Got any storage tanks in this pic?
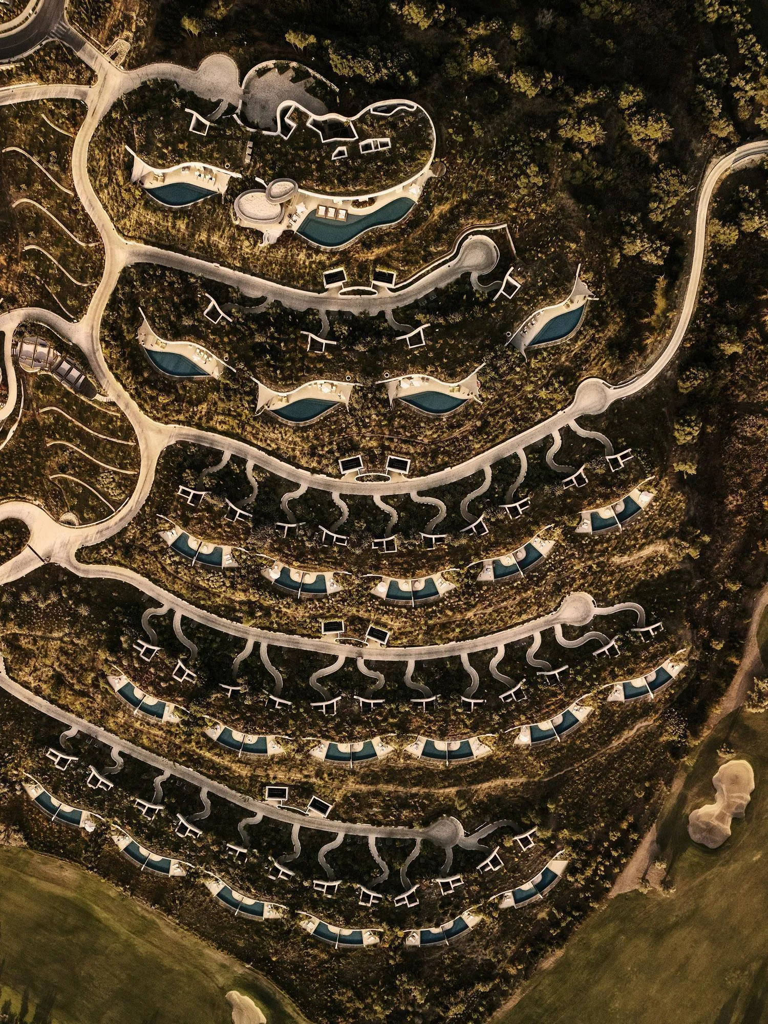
No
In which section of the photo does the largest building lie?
top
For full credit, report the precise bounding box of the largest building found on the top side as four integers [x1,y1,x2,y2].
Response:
[232,98,438,253]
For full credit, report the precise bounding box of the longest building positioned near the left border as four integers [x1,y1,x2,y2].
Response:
[18,335,112,404]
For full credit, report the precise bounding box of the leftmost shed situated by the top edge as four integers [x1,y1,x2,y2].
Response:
[105,38,133,69]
